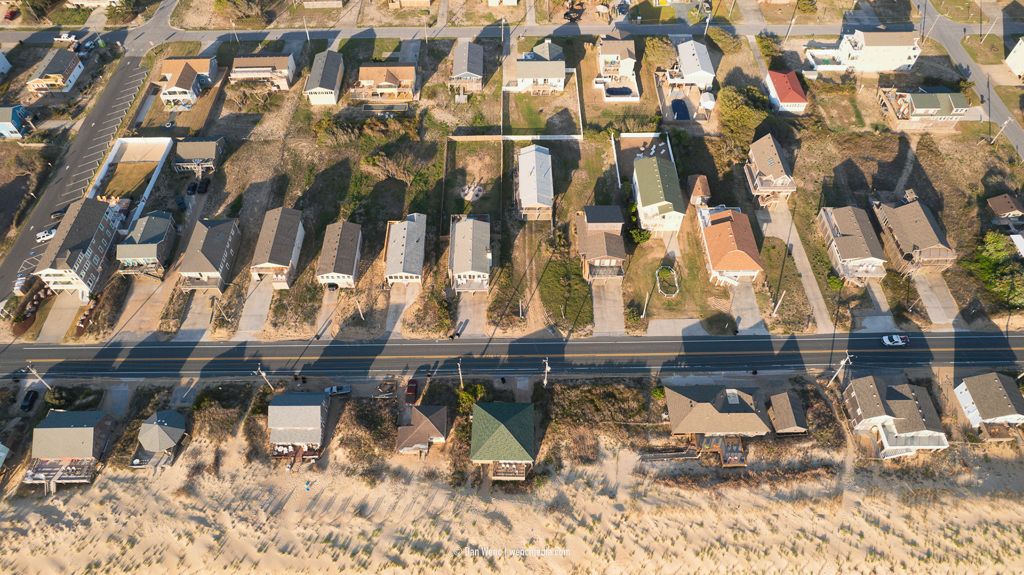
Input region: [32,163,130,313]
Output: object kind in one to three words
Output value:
building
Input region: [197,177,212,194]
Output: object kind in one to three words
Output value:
car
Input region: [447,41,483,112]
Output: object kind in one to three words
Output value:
house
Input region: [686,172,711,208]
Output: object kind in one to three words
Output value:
shed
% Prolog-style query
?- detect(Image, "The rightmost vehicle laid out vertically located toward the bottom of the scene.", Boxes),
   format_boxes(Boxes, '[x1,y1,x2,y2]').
[405,378,419,406]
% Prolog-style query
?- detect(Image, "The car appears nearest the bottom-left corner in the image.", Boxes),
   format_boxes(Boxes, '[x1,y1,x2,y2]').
[18,388,40,412]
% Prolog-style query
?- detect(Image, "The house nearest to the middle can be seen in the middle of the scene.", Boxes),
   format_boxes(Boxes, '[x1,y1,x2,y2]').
[447,217,491,303]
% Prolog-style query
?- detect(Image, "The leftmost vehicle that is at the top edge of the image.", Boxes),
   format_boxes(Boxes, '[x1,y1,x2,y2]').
[3,10,17,22]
